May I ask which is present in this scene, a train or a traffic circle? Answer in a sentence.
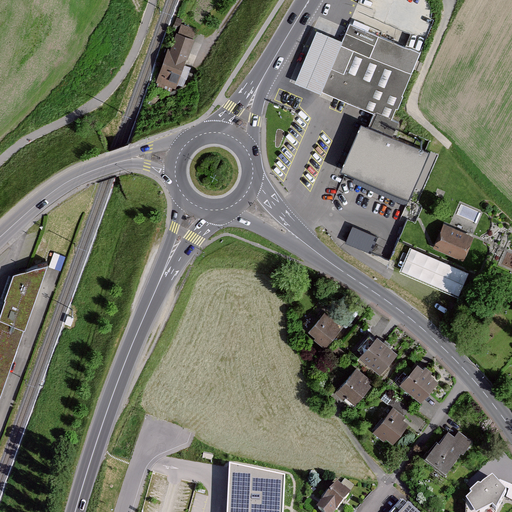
Of the two, only a traffic circle appears.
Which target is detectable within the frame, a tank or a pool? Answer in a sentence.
I can see a pool in this picture.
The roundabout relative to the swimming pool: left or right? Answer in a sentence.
To the left of the swimming pool is where the roundabout appears.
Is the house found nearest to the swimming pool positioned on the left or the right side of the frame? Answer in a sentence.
You can find the house found nearest to the swimming pool on the right side of the picture.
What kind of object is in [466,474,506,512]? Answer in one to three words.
house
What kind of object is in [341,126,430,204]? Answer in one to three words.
building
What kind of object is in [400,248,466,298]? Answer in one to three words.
building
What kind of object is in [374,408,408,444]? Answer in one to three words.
house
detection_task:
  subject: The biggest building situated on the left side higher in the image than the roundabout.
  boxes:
[157,34,194,90]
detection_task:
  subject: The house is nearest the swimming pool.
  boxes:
[433,222,474,261]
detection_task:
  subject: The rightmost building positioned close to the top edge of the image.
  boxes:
[322,24,421,119]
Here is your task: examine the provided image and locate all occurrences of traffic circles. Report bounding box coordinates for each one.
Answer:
[162,120,266,223]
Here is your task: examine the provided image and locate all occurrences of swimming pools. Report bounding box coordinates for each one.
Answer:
[451,202,482,233]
